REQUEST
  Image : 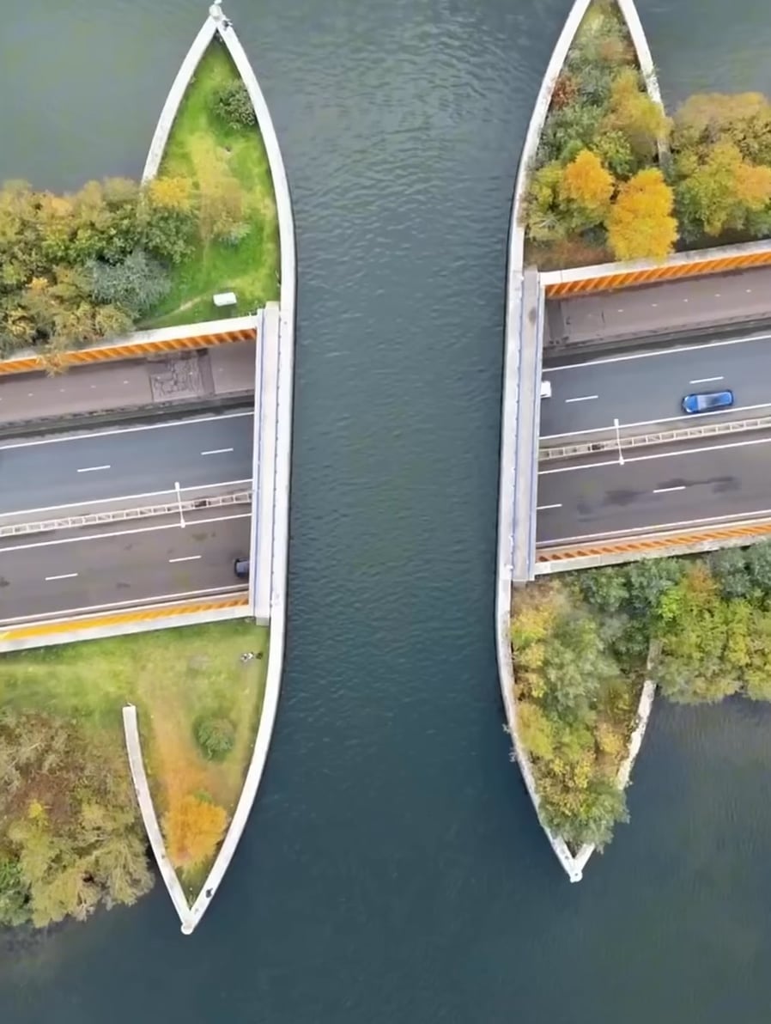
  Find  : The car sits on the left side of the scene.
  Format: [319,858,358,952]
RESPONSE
[235,558,251,578]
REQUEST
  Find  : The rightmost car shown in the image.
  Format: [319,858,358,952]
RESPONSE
[682,389,733,414]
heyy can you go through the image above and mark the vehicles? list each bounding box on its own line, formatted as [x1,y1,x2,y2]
[541,379,551,400]
[235,558,251,578]
[682,389,733,414]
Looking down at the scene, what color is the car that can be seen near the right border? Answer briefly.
blue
